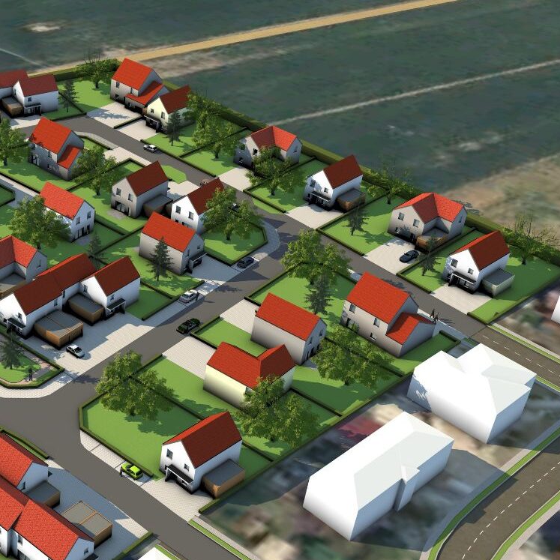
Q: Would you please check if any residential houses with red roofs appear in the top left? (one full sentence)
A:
Yes, a residential house with a red roof appears in the top left.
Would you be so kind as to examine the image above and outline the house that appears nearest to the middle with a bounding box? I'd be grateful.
[247,293,327,364]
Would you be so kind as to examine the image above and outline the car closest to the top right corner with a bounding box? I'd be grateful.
[397,250,422,262]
